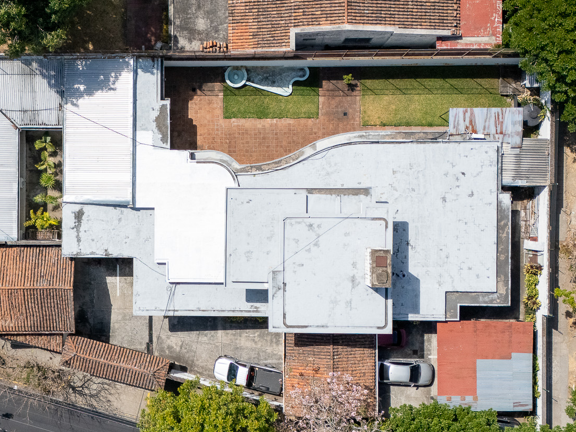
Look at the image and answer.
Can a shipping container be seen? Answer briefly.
No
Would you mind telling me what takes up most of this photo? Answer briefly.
buildings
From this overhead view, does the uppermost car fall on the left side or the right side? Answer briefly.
right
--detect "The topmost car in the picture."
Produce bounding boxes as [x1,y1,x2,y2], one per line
[378,323,411,351]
